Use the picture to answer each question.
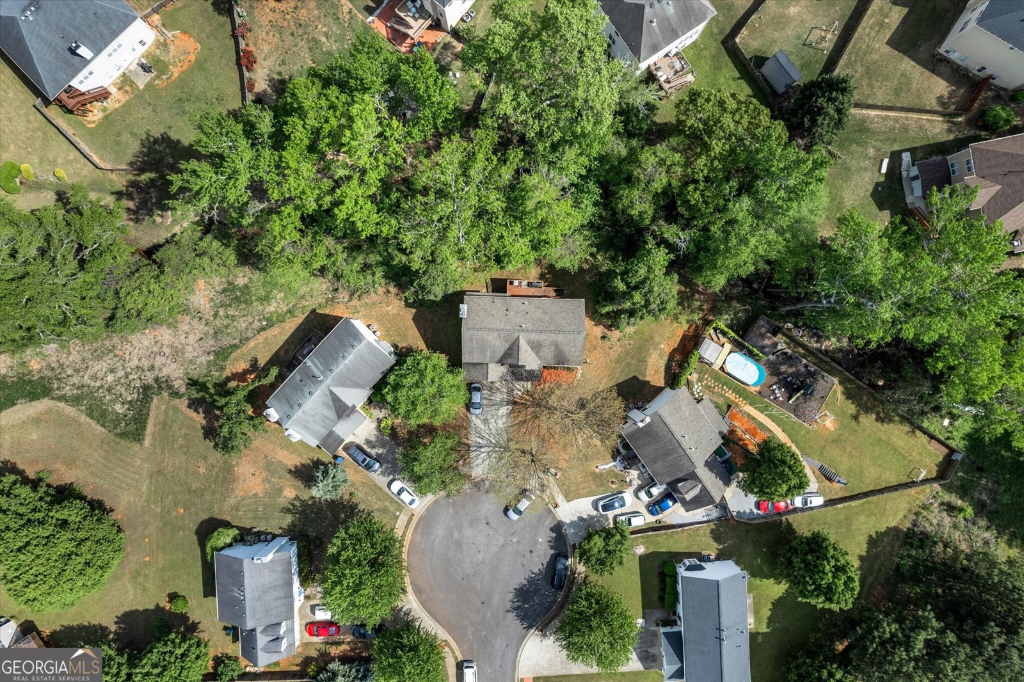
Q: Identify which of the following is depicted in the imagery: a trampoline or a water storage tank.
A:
trampoline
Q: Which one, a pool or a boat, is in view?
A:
pool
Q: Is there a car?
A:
Yes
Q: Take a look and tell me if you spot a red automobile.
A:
Yes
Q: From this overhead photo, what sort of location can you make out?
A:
residential area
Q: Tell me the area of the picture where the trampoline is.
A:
right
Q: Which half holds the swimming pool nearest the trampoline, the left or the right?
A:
right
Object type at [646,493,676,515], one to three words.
car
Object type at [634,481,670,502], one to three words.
truck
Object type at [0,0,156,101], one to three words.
house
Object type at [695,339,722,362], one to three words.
shed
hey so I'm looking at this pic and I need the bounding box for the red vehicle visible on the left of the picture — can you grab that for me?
[307,622,340,638]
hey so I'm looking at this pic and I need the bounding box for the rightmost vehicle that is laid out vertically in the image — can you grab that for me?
[552,554,567,588]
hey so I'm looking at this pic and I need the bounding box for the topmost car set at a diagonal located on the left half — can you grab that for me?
[349,443,379,473]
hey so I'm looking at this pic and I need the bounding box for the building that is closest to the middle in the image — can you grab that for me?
[459,293,585,382]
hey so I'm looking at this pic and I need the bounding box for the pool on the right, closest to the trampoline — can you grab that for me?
[725,351,769,388]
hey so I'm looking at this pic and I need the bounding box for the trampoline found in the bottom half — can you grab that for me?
[794,400,822,425]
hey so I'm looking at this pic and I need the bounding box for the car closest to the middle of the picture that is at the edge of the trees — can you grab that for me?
[468,383,483,414]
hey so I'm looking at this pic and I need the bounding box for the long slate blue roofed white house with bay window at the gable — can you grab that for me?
[657,558,751,682]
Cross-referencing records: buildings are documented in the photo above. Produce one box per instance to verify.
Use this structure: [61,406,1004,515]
[0,614,21,672]
[406,0,475,31]
[216,539,304,667]
[459,293,585,382]
[262,316,398,456]
[758,50,802,97]
[619,387,730,513]
[0,0,156,101]
[695,339,722,362]
[657,558,751,682]
[944,0,1024,90]
[742,316,781,358]
[596,0,717,73]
